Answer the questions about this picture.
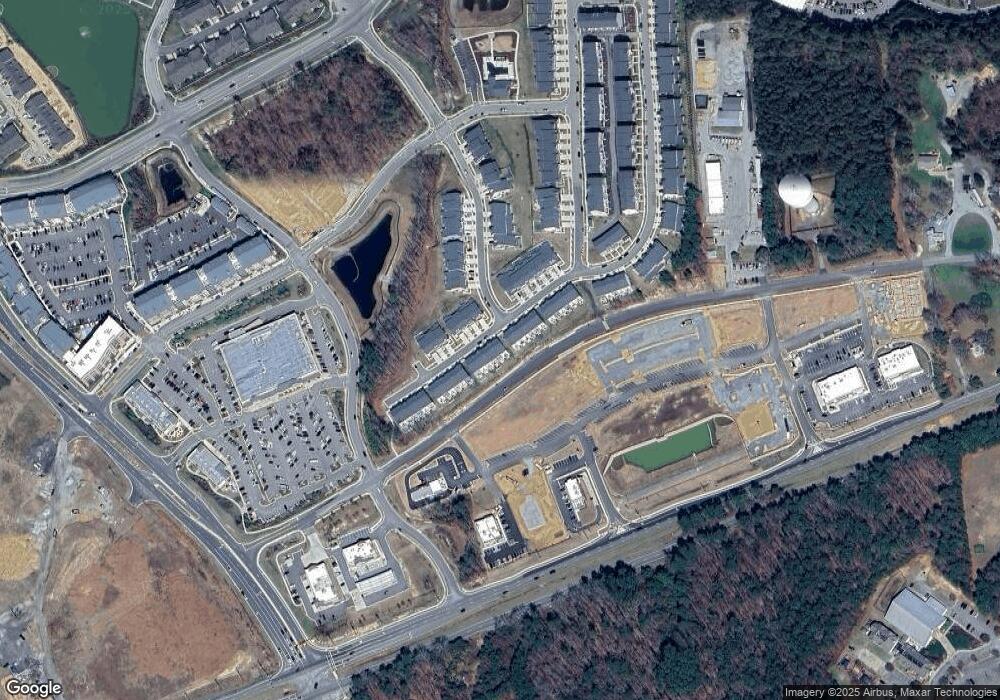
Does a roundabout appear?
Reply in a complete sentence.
No, I can't see a single roundabout in this photo.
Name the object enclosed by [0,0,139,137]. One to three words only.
pond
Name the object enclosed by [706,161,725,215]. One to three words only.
building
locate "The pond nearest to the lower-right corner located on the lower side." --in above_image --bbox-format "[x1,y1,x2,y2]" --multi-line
[622,423,715,472]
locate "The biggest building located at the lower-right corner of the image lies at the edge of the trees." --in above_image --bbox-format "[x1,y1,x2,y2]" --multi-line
[884,588,946,650]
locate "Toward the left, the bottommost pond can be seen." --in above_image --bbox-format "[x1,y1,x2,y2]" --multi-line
[331,213,393,319]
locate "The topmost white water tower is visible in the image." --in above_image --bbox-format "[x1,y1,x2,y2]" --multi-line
[780,172,819,215]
